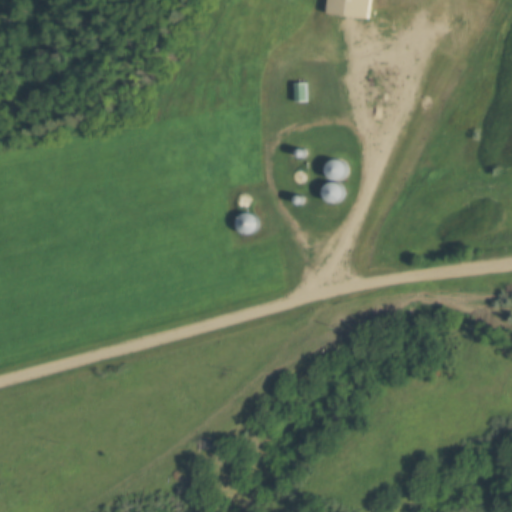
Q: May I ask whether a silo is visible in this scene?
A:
Yes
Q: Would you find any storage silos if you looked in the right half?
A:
Yes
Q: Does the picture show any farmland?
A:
Yes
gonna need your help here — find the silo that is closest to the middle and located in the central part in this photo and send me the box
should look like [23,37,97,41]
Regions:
[236,212,260,235]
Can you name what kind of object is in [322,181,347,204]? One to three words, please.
silo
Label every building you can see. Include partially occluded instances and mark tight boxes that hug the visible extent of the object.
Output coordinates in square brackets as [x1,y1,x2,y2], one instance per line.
[294,82,310,103]
[326,0,374,21]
